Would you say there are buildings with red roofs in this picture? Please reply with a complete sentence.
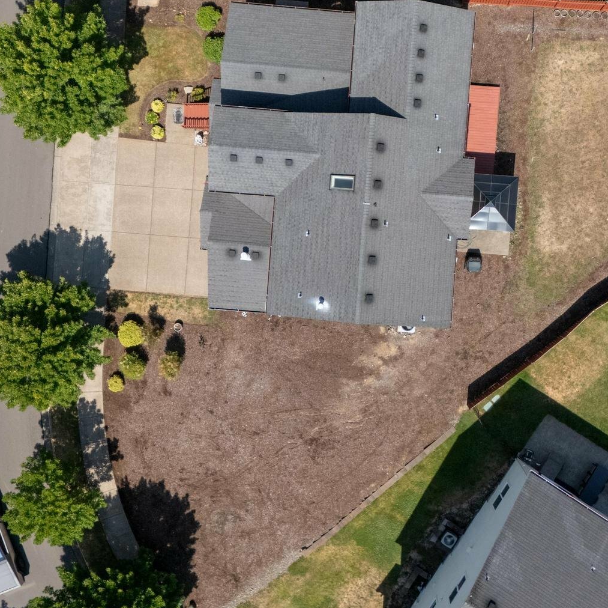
No, I can see no building with a red roof in this picture.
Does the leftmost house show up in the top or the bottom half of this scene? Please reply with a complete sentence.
Seen from above, the leftmost house lies in the top half of the view.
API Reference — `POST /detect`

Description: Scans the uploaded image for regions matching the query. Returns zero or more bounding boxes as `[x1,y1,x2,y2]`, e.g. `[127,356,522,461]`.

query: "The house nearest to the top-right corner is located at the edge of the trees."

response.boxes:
[199,1,480,330]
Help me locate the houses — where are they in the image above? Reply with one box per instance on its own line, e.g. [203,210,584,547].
[199,1,480,330]
[423,453,608,608]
